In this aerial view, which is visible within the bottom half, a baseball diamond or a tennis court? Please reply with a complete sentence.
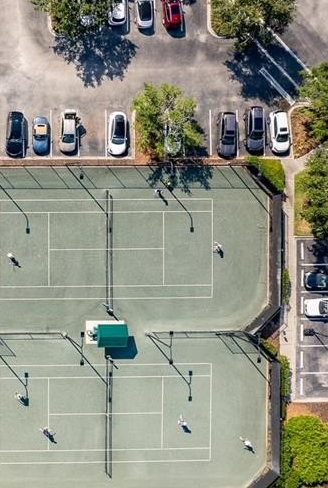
The one visible within the bottom half is a tennis court.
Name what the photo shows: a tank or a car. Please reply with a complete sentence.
Visible in the photo is a car.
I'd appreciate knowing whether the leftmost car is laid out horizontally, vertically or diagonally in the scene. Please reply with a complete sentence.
The leftmost car runs vertically in the image.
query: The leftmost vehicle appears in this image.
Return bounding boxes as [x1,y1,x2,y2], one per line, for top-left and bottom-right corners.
[5,112,25,157]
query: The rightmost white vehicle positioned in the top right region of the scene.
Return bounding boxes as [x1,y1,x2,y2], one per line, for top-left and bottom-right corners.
[266,112,291,154]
